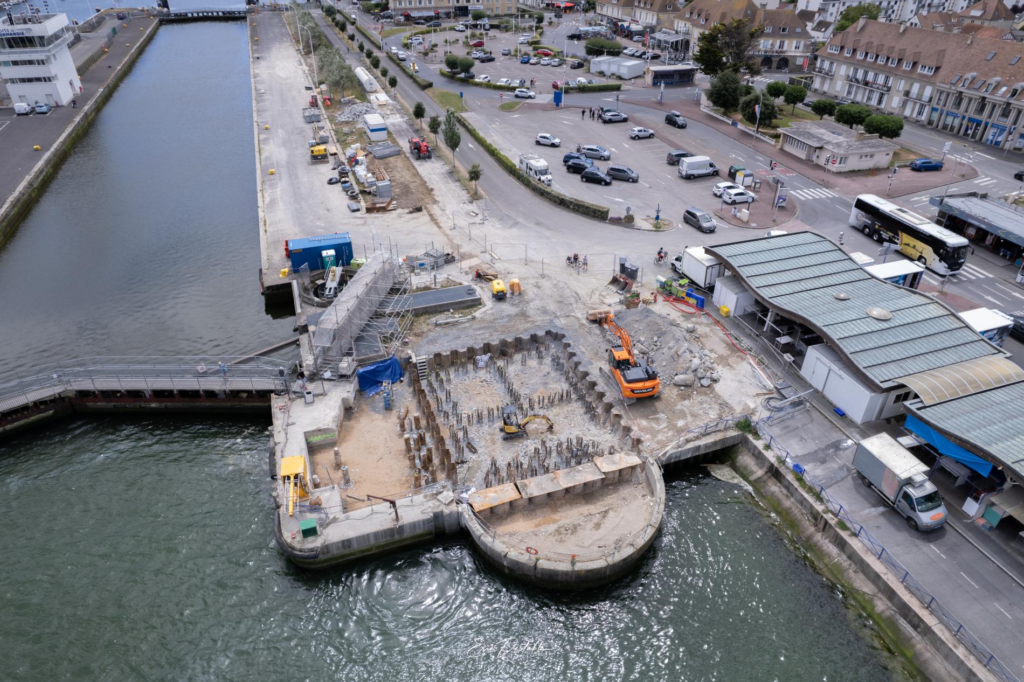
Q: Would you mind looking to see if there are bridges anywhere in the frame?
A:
Yes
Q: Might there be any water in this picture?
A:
Yes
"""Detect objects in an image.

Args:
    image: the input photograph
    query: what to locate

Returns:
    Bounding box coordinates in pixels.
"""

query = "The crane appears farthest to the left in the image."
[274,455,313,520]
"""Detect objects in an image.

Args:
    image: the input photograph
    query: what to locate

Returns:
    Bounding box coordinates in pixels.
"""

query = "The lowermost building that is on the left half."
[362,116,387,140]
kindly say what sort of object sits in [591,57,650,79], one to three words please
building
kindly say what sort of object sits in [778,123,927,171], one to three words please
house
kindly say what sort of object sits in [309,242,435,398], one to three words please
bridge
